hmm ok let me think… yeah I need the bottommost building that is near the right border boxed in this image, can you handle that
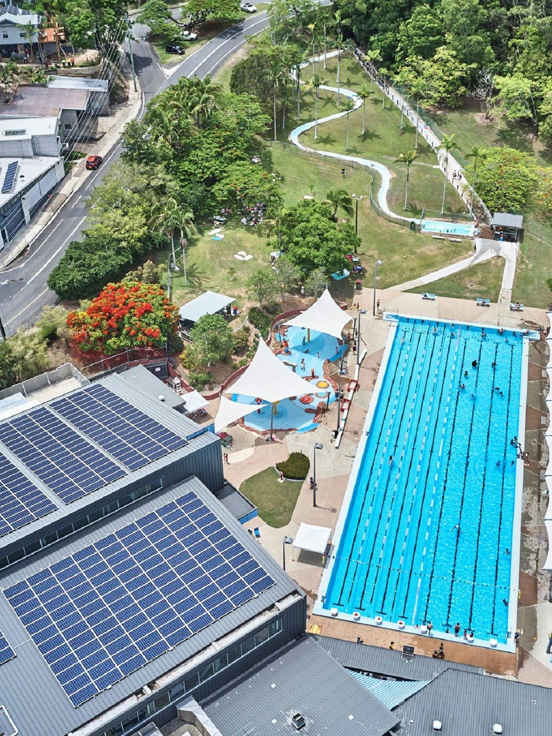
[390,669,552,736]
